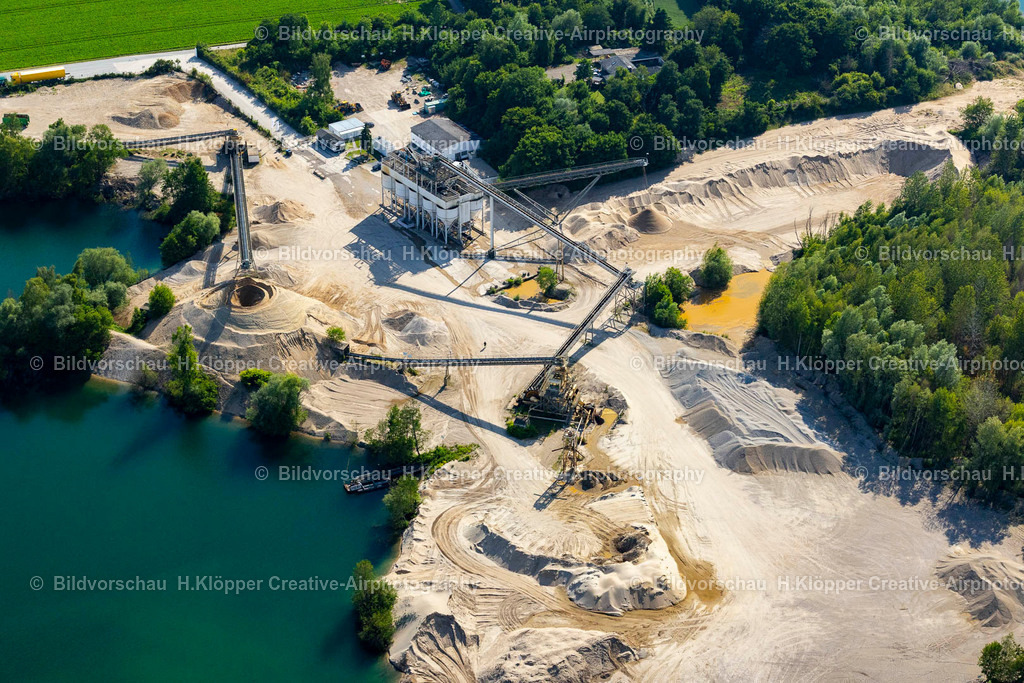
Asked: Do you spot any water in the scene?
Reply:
Yes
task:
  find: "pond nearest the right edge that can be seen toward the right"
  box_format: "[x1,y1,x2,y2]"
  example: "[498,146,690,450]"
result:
[680,276,779,352]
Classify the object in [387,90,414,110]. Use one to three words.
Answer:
work vehicle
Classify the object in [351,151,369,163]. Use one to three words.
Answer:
vehicle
